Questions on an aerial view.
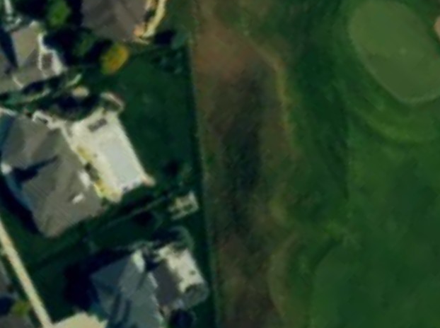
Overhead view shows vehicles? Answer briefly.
No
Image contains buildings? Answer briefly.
Yes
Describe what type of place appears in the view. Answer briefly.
golf course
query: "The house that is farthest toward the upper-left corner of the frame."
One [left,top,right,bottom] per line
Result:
[0,22,60,95]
